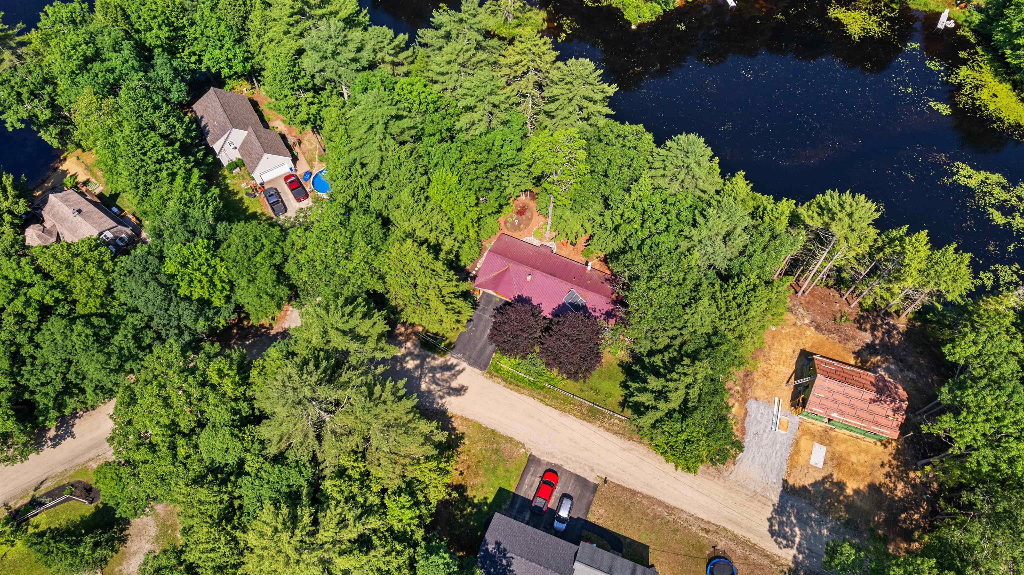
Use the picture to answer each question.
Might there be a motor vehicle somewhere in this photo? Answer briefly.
Yes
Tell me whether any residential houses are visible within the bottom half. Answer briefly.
Yes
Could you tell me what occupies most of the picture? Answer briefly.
trees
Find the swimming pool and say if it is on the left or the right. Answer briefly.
left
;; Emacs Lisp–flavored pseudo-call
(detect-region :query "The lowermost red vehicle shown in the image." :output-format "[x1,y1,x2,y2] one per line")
[532,466,556,516]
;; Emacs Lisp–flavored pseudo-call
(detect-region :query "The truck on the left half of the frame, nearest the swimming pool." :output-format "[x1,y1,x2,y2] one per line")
[286,173,308,205]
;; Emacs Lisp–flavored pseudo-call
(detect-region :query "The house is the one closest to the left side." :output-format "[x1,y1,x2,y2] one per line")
[22,189,144,272]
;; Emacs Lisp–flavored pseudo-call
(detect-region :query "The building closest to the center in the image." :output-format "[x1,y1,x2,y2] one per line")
[471,234,623,340]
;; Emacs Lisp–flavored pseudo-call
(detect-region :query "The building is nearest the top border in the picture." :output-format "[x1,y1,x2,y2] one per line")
[195,87,295,184]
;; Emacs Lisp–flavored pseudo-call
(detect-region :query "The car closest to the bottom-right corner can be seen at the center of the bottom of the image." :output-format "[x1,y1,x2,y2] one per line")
[554,490,575,534]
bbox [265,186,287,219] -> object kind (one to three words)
truck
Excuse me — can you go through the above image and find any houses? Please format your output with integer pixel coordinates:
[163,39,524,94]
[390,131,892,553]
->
[794,356,911,443]
[472,512,661,575]
[471,234,623,340]
[195,87,295,184]
[22,189,144,272]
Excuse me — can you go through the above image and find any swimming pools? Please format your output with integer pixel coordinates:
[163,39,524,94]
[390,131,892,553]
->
[309,167,337,188]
